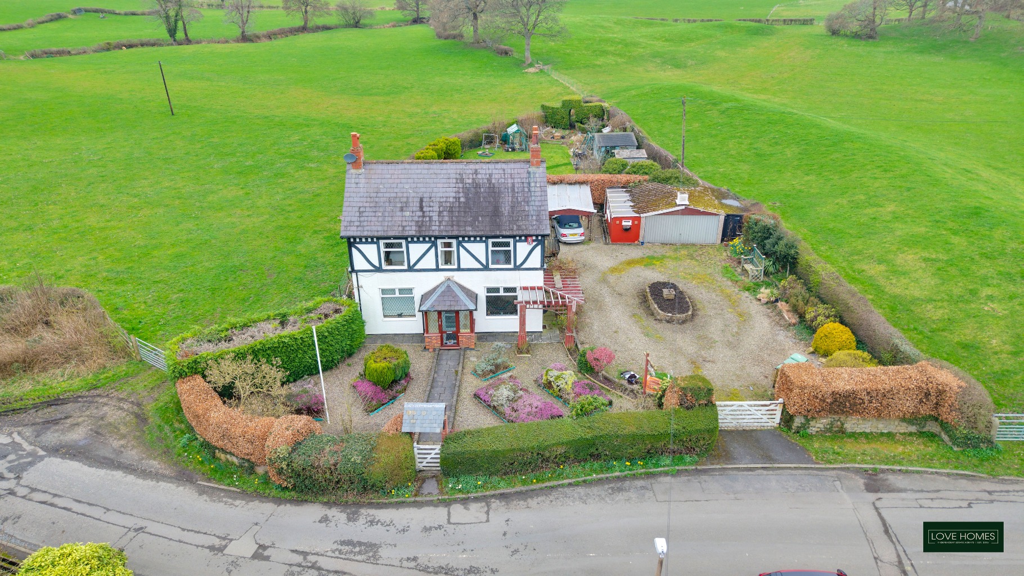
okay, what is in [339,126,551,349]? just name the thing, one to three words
house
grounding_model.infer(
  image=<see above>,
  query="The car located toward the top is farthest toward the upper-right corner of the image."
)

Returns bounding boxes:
[552,216,587,244]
